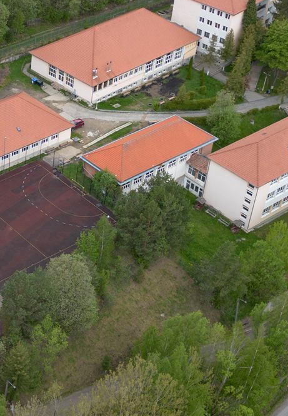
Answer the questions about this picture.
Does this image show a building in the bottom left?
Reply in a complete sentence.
No, I see no building in the bottom left.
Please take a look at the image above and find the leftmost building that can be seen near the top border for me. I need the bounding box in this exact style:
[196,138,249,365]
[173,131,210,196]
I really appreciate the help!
[27,7,204,103]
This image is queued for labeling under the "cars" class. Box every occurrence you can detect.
[71,117,90,130]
